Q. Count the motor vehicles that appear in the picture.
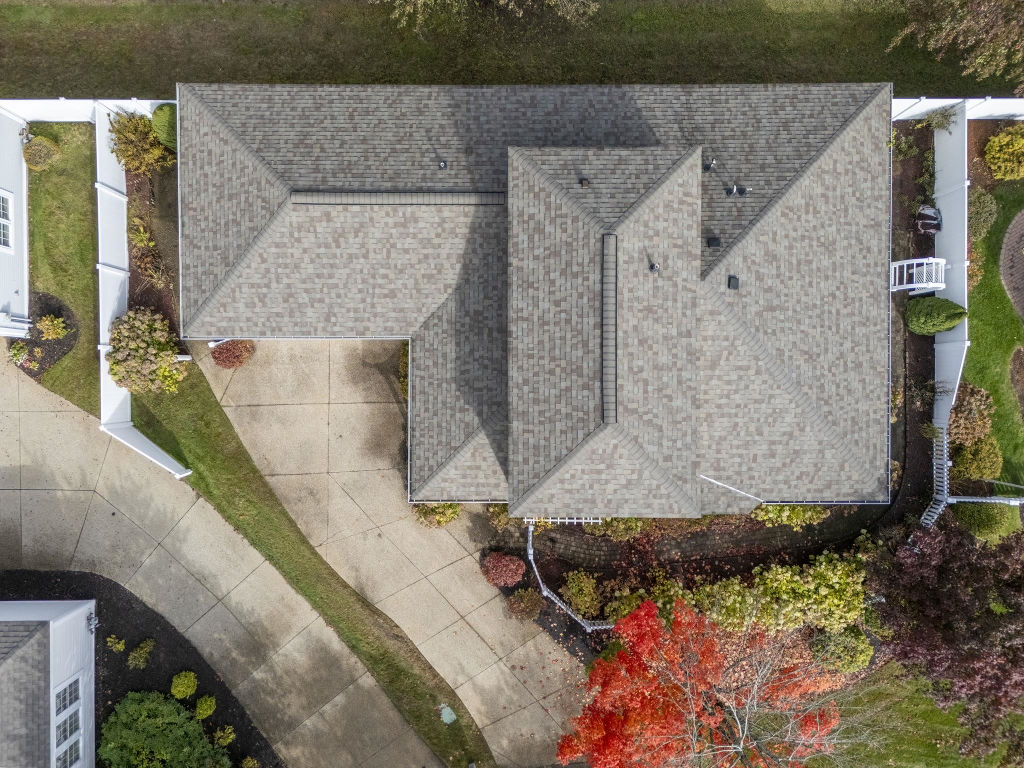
0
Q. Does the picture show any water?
No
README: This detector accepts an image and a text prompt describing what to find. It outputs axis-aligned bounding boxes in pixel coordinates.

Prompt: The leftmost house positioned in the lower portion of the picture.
[0,601,98,768]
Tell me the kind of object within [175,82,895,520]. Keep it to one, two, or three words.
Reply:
house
